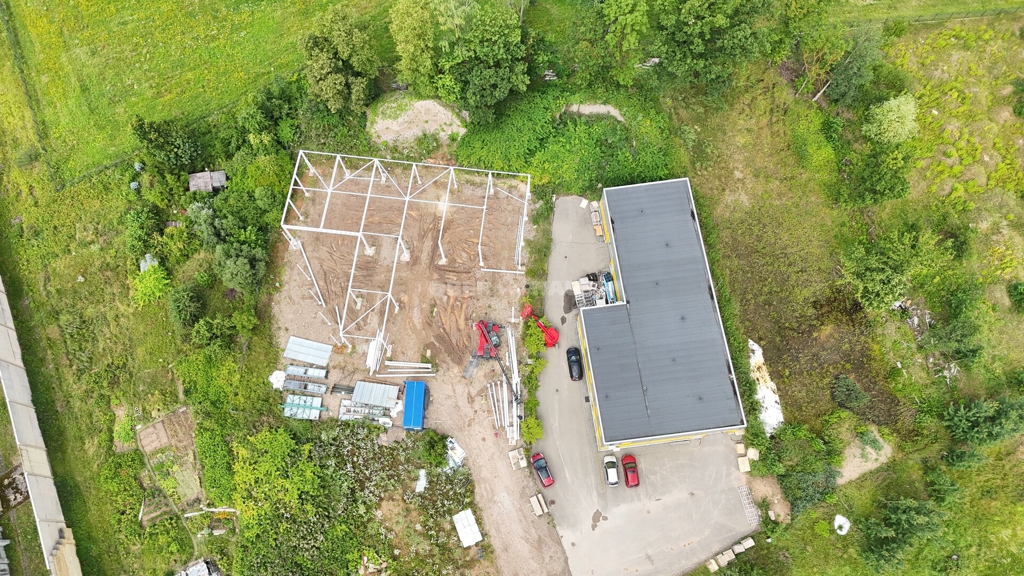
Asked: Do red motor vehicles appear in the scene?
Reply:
Yes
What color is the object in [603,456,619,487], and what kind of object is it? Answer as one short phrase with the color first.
white car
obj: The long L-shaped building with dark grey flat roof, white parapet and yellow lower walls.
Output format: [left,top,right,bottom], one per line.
[579,179,745,454]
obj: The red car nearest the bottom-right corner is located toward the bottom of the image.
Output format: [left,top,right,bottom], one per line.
[621,454,639,489]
